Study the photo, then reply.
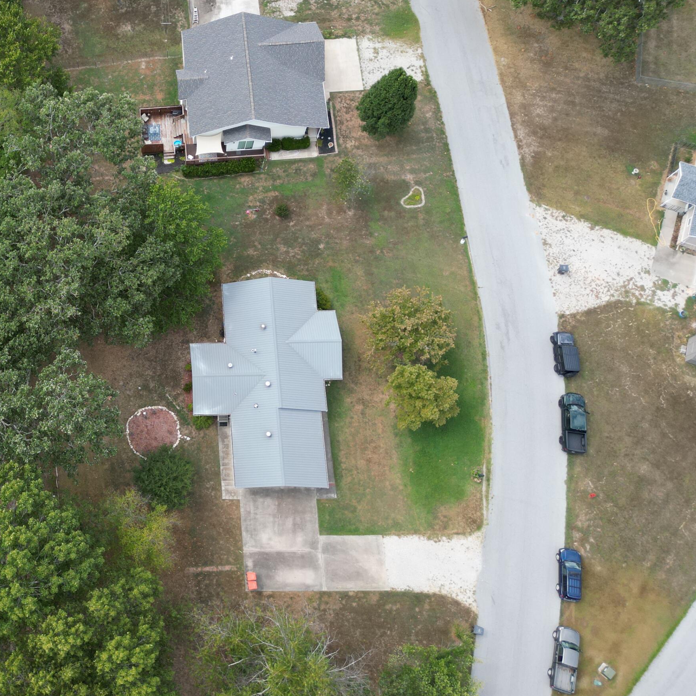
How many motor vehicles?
4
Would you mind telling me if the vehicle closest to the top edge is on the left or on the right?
right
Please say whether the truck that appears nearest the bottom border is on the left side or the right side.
right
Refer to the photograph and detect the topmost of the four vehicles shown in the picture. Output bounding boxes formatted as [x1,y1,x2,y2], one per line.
[549,333,580,376]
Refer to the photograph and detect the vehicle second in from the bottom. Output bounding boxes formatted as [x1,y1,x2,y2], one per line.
[555,548,583,601]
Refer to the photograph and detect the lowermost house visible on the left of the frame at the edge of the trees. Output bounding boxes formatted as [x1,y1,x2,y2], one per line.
[190,277,345,488]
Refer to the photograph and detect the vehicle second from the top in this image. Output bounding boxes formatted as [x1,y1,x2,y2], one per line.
[557,395,587,454]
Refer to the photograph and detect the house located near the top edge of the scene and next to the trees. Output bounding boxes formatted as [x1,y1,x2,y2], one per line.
[176,12,329,151]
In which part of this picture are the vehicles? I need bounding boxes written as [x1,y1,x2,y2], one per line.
[547,624,581,694]
[557,395,587,454]
[555,548,583,601]
[549,333,580,376]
